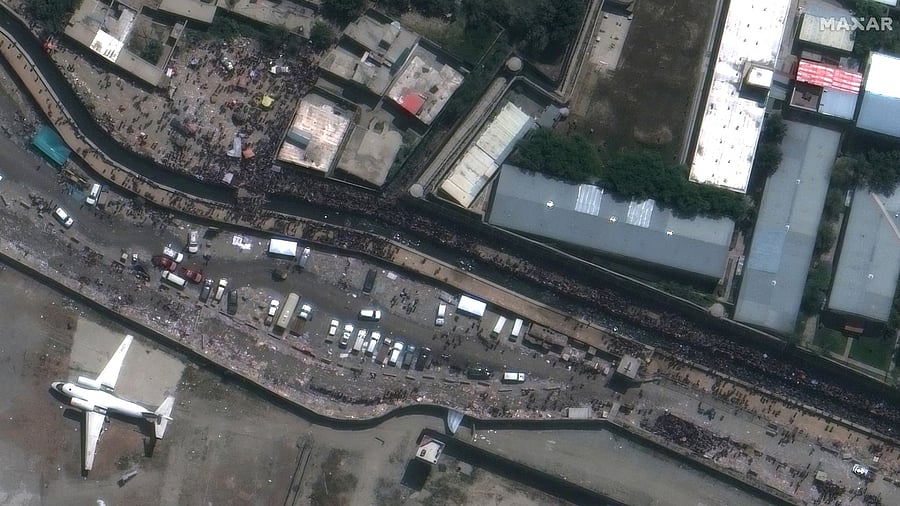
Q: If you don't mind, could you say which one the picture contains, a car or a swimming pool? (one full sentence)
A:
It is a car that can be seen here.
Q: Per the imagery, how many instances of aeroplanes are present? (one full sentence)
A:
In total, 1 aeroplane can be seen.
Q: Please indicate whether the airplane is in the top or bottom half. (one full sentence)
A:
The airplane is in the bottom half of the image.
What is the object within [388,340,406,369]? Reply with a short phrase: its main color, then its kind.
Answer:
white car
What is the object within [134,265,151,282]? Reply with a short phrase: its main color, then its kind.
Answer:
black car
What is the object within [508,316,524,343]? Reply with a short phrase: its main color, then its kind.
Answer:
white vehicle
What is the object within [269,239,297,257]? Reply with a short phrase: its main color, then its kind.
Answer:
white tent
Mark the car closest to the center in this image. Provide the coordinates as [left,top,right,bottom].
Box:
[435,302,447,327]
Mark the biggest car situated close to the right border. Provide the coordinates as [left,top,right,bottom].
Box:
[850,461,875,480]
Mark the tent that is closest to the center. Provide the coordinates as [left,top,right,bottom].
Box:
[457,294,488,318]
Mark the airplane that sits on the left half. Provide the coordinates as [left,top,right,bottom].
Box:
[52,336,174,473]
